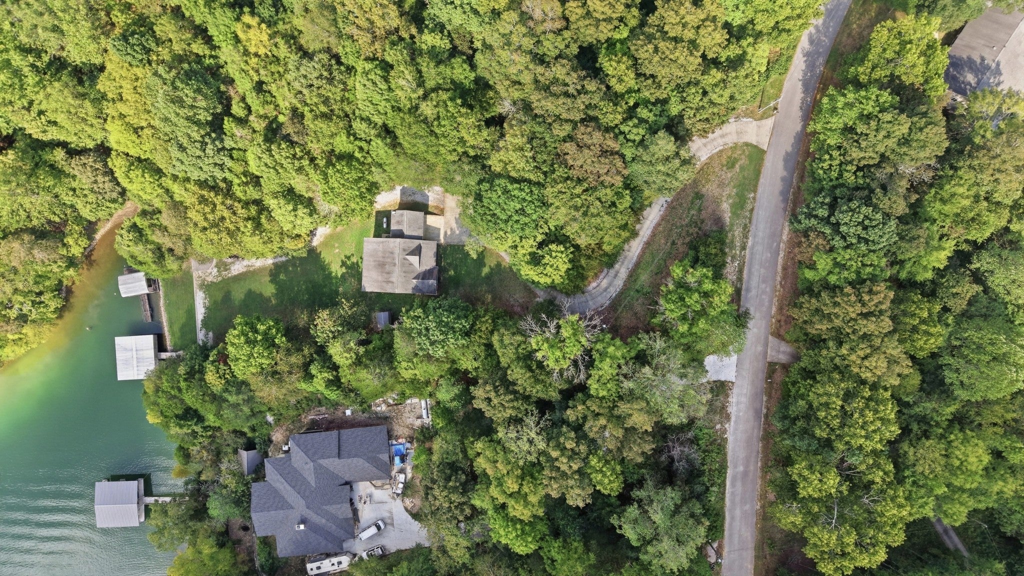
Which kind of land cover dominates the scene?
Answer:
trees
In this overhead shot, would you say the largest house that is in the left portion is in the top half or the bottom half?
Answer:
bottom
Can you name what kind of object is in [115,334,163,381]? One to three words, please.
building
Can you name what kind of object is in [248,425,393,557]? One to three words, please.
house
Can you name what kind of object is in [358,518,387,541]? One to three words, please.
vehicle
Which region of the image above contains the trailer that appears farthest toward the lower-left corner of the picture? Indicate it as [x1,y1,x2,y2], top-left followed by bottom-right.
[305,551,357,576]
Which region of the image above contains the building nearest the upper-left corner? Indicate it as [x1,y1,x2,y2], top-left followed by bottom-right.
[117,266,162,298]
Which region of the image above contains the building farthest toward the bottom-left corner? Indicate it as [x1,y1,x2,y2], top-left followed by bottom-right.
[95,477,146,527]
